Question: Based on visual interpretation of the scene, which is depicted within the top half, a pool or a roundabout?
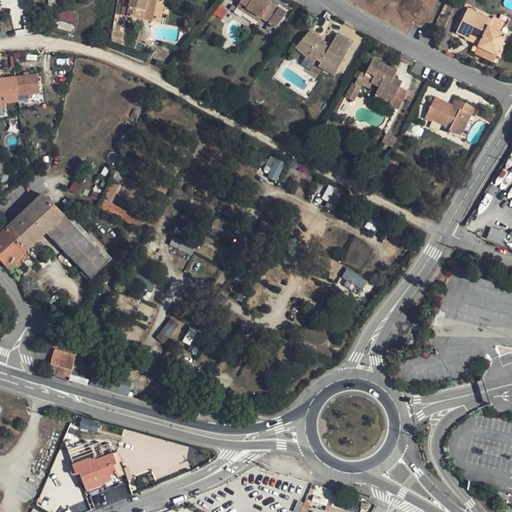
pool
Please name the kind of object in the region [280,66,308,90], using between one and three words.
swimming pool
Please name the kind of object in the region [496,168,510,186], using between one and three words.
boat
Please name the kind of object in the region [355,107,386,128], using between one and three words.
swimming pool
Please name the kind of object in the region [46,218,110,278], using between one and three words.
barn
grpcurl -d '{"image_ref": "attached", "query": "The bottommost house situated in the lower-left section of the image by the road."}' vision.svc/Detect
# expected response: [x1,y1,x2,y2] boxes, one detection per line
[72,453,114,495]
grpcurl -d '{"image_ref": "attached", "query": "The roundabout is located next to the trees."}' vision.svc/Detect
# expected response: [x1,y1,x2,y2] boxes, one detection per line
[306,378,400,472]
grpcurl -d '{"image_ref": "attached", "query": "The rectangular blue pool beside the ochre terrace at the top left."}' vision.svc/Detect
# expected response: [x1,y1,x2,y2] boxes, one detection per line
[151,24,180,43]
